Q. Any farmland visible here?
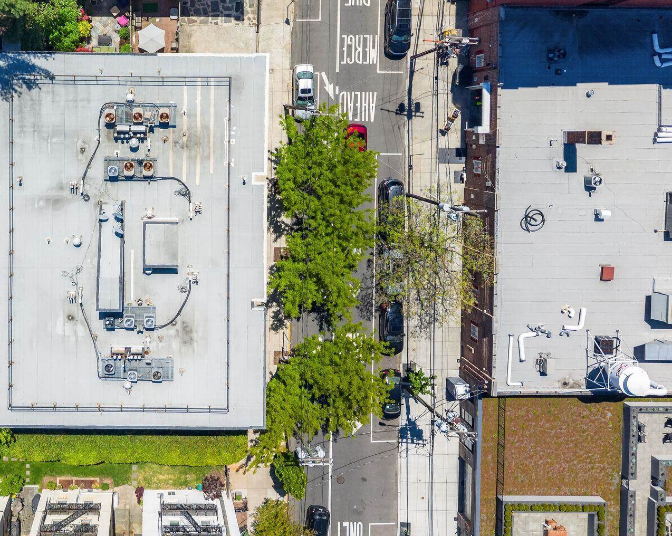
No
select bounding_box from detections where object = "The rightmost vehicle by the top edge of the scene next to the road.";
[384,0,417,58]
